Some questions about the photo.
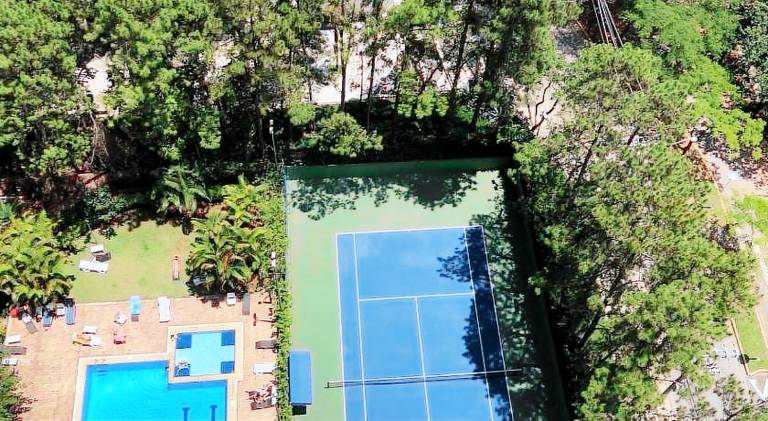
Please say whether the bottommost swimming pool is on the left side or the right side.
left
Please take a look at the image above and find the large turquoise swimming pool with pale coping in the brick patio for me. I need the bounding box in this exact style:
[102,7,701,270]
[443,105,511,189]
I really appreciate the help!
[70,354,238,421]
